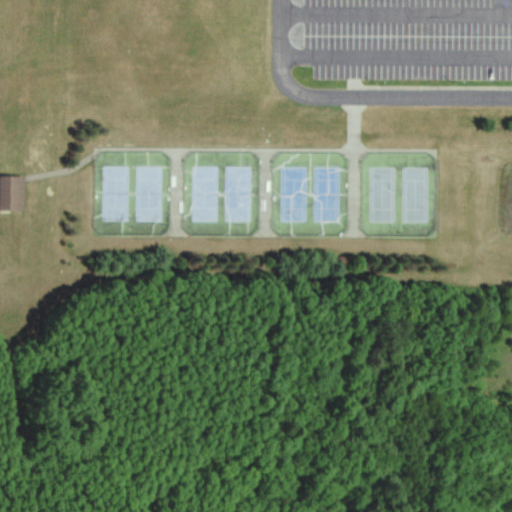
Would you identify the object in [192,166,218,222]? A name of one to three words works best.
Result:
tennis court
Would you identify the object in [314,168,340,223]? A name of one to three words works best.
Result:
tennis court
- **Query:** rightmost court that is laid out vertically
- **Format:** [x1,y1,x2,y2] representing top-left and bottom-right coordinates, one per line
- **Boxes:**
[402,168,428,223]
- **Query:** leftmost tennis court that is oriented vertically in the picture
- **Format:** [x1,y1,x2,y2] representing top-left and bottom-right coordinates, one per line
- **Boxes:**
[102,166,130,222]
